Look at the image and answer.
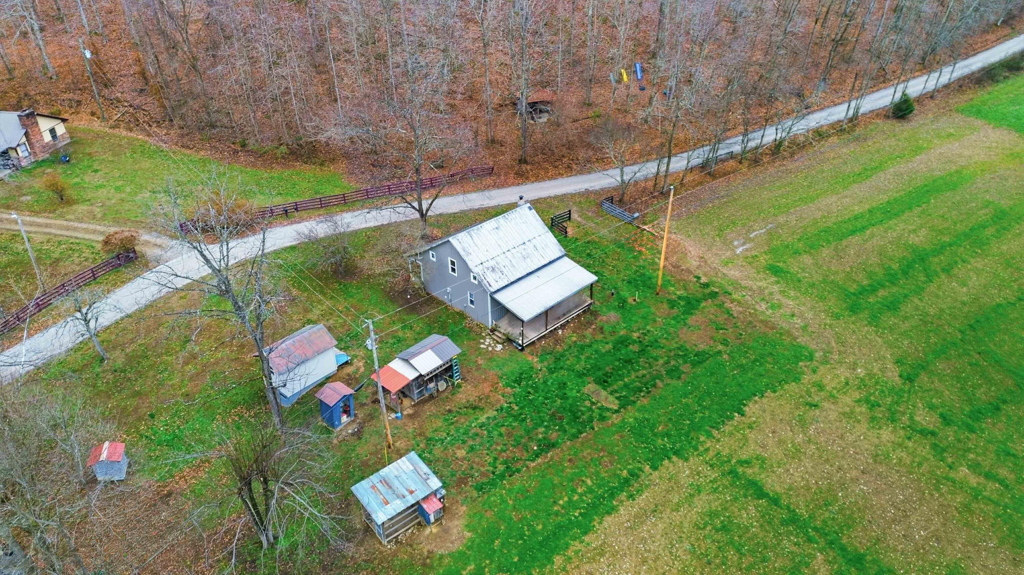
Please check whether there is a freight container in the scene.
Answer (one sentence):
No, no freight container can be seen from above.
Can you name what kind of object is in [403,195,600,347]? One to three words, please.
house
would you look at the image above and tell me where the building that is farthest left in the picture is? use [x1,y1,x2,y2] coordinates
[0,110,74,181]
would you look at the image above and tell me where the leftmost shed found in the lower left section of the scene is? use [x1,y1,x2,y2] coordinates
[85,436,136,481]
